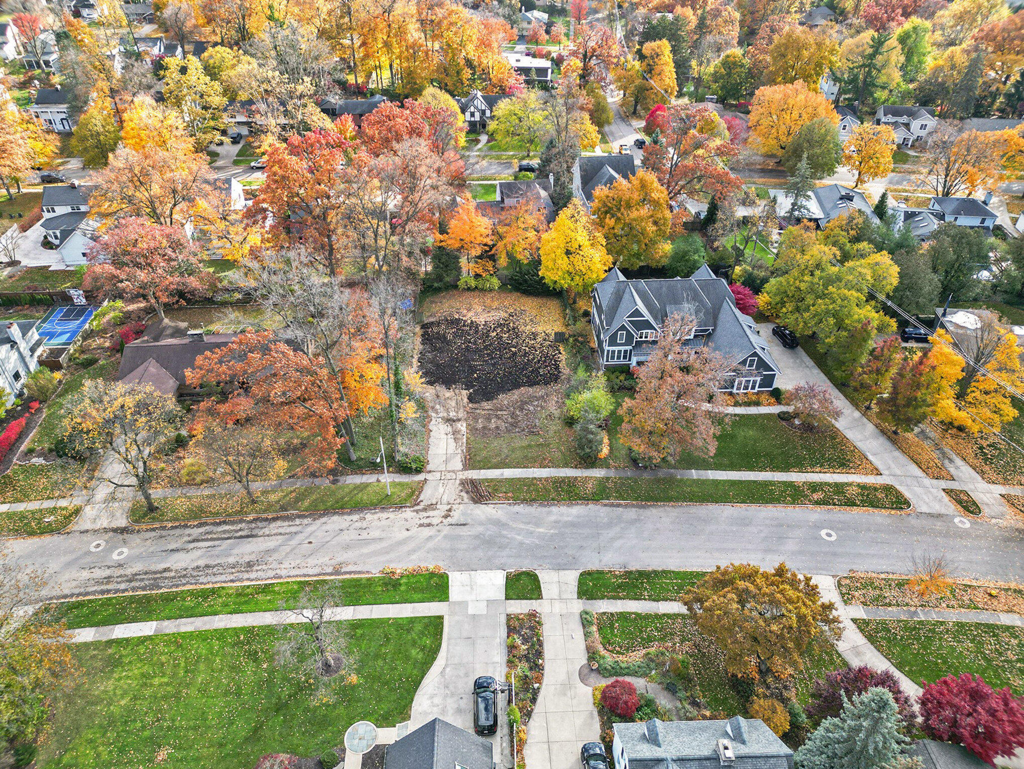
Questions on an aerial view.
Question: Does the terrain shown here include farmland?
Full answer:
No, there is no farmland in the image.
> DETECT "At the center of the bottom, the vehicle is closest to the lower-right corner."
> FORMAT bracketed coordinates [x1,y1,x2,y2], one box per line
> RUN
[582,738,614,769]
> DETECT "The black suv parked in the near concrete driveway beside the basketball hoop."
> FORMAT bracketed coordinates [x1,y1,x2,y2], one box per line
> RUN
[470,676,501,737]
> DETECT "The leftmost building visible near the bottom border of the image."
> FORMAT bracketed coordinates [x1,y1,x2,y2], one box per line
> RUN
[394,715,497,769]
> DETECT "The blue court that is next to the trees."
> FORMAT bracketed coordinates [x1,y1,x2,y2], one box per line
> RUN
[42,303,100,351]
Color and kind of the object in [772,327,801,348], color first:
black car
